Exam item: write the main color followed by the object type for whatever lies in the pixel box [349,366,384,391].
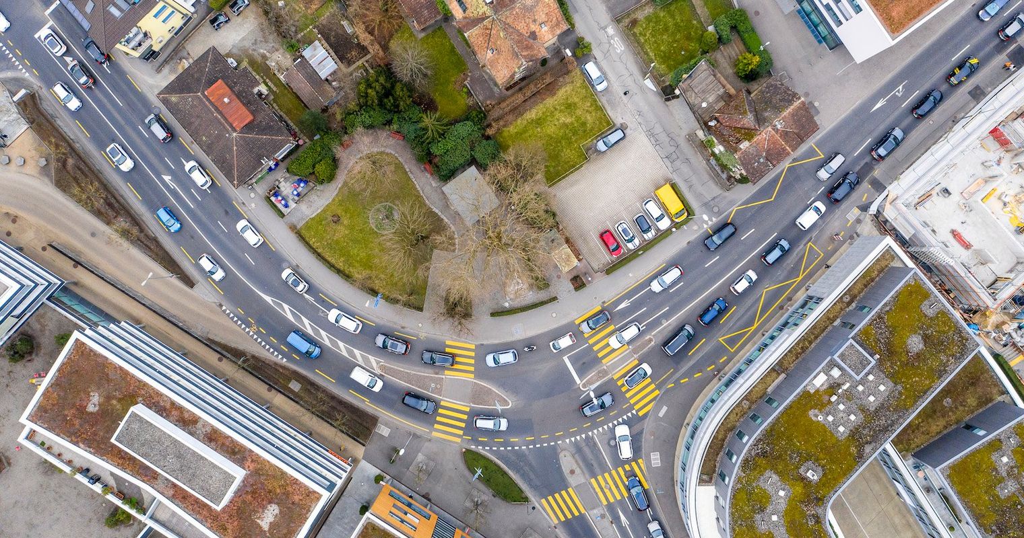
white vehicle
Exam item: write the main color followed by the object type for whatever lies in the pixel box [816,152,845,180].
white car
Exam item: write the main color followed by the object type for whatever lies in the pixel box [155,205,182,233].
blue car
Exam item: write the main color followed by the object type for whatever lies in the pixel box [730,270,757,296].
white car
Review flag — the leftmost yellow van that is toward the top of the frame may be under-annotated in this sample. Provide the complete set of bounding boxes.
[657,184,685,220]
